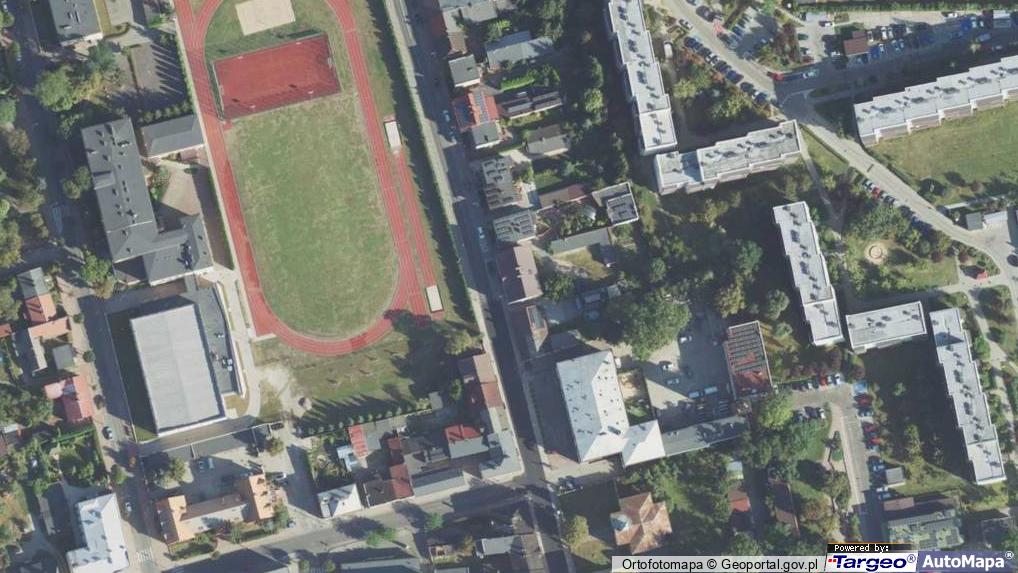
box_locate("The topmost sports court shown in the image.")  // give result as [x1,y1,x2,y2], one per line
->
[236,0,295,35]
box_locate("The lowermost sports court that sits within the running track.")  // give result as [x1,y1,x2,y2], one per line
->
[215,34,341,133]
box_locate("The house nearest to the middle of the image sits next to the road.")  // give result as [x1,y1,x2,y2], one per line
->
[497,243,542,307]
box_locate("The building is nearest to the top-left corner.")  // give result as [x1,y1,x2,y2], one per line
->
[51,0,105,48]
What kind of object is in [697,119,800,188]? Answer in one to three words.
building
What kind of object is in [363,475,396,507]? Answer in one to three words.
house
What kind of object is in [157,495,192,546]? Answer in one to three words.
house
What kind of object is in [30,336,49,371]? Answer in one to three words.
shed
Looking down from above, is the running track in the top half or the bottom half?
top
